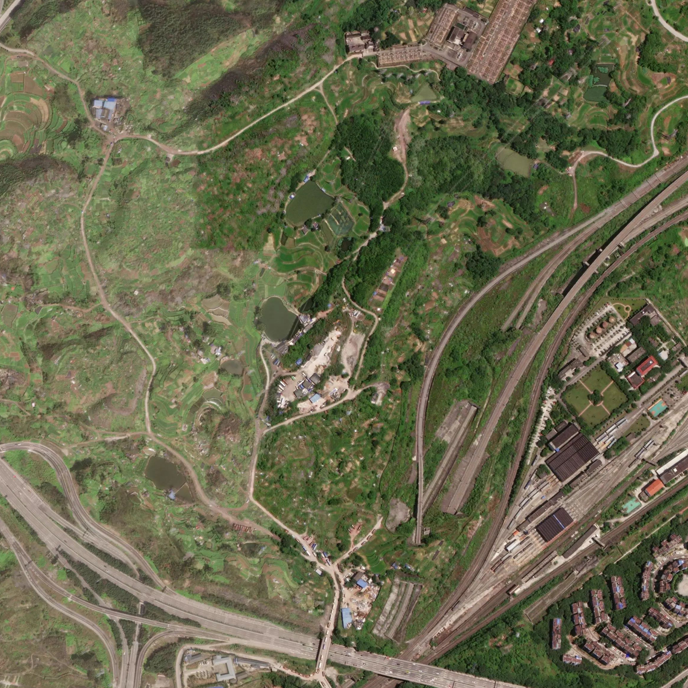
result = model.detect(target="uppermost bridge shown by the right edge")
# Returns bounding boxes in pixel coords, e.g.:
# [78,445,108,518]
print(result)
[443,171,688,517]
